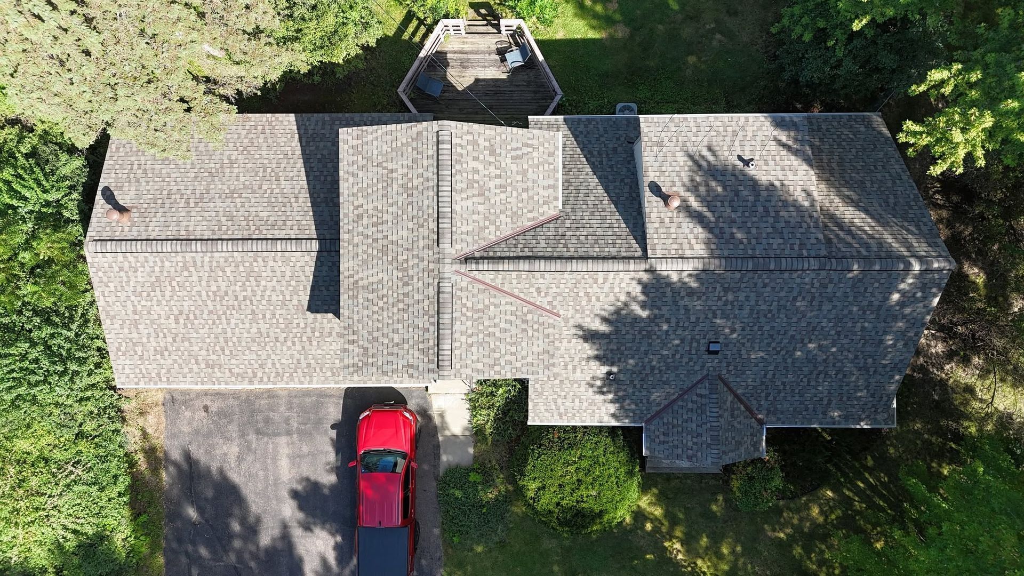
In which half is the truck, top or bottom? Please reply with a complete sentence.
Seen from above, the truck lies in the bottom half of the view.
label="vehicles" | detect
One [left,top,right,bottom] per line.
[349,400,423,576]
